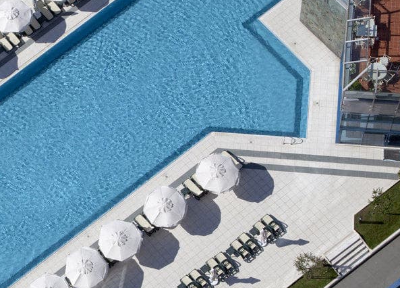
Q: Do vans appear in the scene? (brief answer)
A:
No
